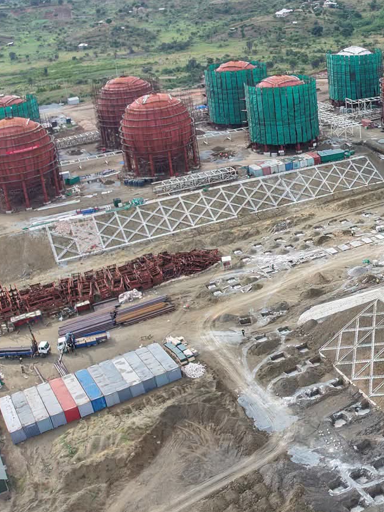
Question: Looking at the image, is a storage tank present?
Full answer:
Yes, I can see a storage tank in this picture.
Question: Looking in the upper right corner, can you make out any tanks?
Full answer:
Yes, there is a tank in the upper right corner.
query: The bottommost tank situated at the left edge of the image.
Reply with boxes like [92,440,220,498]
[0,114,63,209]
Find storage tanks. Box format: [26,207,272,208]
[0,92,39,127]
[119,89,199,177]
[204,60,265,128]
[0,114,63,209]
[92,75,156,147]
[326,45,383,107]
[245,72,319,152]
